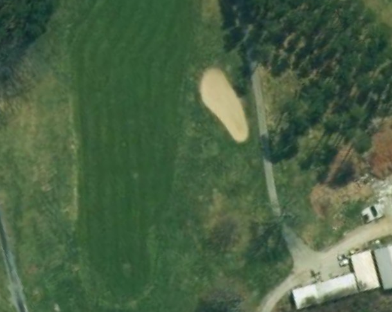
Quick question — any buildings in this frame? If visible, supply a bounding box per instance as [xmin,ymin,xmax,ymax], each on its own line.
[375,247,392,290]
[352,251,381,293]
[292,274,359,310]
